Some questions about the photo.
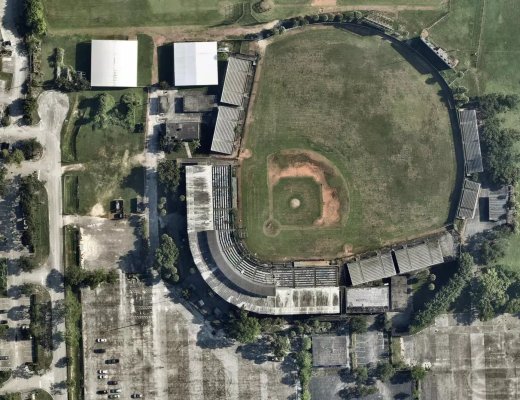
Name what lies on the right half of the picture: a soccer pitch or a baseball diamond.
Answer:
baseball diamond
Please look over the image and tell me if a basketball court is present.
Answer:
No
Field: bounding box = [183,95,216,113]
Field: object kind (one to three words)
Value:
building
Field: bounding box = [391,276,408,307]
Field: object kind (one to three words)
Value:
building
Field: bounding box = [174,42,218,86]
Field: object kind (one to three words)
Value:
shed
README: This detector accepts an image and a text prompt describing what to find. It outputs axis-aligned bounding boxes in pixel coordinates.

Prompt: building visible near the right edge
[488,193,508,221]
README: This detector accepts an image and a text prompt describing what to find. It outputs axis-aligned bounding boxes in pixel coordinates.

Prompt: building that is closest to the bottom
[312,335,348,366]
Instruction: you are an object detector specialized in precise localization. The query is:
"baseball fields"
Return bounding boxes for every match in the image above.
[237,25,461,264]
